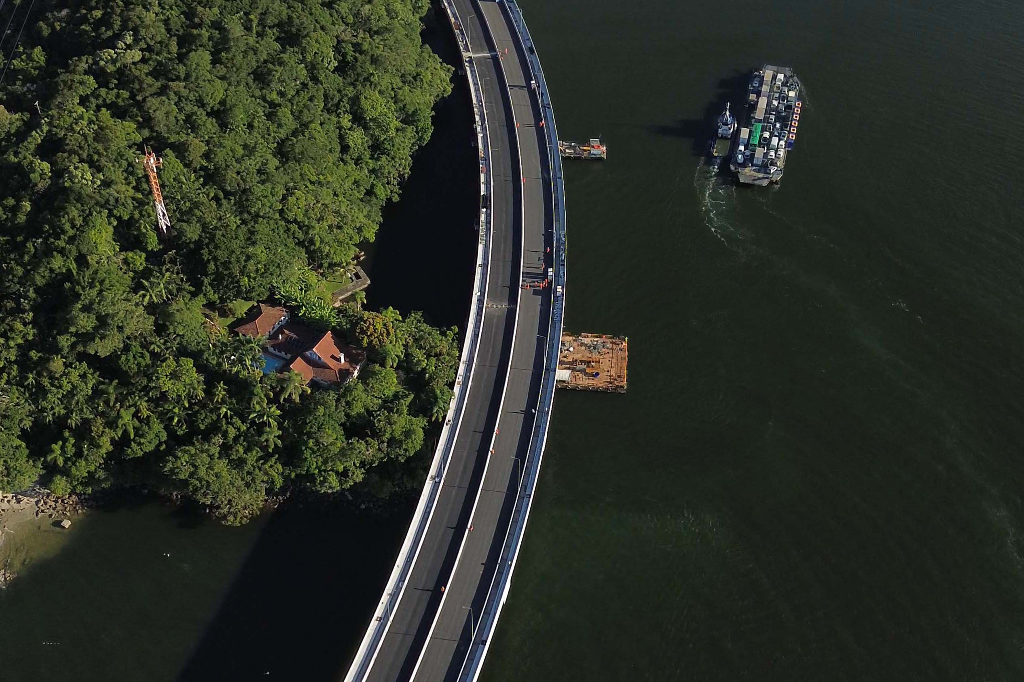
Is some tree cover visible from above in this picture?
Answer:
Yes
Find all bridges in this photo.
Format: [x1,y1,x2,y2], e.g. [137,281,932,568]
[344,0,568,682]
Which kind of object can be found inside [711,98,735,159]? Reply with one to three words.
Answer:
boat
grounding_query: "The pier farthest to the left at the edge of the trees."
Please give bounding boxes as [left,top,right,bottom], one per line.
[334,266,370,307]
